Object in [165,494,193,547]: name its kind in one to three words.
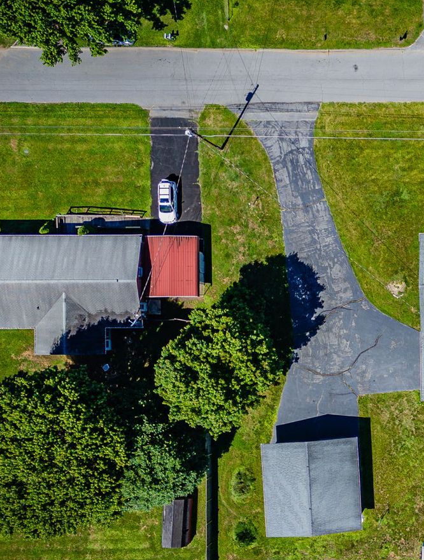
shed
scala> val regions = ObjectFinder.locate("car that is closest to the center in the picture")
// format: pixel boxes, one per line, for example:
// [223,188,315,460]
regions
[156,178,180,224]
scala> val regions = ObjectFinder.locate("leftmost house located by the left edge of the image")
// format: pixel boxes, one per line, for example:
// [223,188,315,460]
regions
[0,235,150,355]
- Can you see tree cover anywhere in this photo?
Yes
